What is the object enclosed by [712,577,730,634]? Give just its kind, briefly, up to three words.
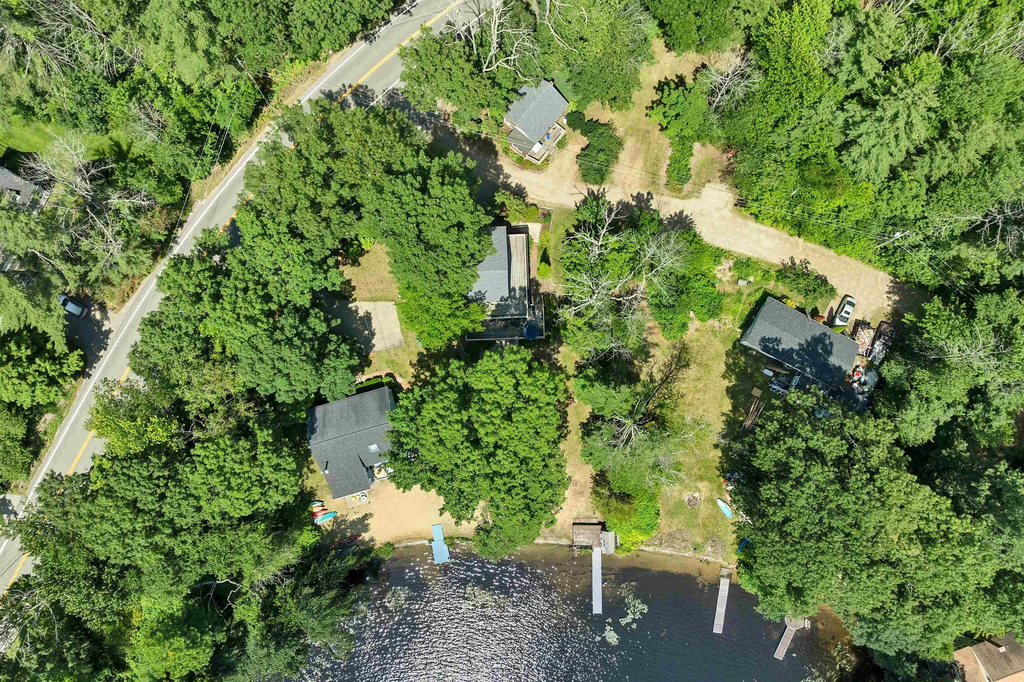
pier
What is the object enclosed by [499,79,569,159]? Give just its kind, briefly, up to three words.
house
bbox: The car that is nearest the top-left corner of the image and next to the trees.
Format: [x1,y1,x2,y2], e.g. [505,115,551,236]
[64,294,90,321]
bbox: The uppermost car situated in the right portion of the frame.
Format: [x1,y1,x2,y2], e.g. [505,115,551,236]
[831,293,858,325]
